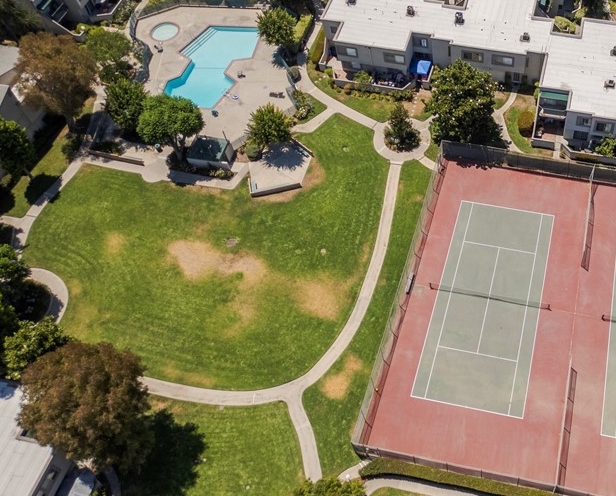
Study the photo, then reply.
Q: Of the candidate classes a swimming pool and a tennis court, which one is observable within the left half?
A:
swimming pool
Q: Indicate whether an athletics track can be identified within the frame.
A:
No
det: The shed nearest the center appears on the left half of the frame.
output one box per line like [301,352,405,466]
[187,132,237,174]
